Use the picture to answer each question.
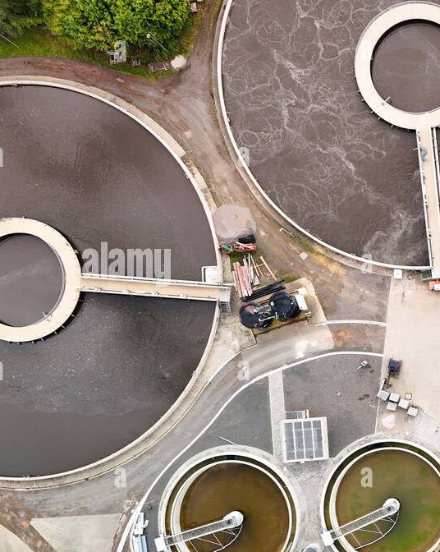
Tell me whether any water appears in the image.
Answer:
Yes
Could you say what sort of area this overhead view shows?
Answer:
industrial area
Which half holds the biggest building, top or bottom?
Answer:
bottom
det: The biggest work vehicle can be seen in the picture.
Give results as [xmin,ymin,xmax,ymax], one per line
[387,360,400,386]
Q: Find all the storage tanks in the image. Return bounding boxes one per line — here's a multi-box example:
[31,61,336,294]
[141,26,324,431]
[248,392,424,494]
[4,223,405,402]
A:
[164,452,302,552]
[265,290,300,322]
[321,440,440,552]
[238,299,270,330]
[0,75,233,489]
[212,0,440,279]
